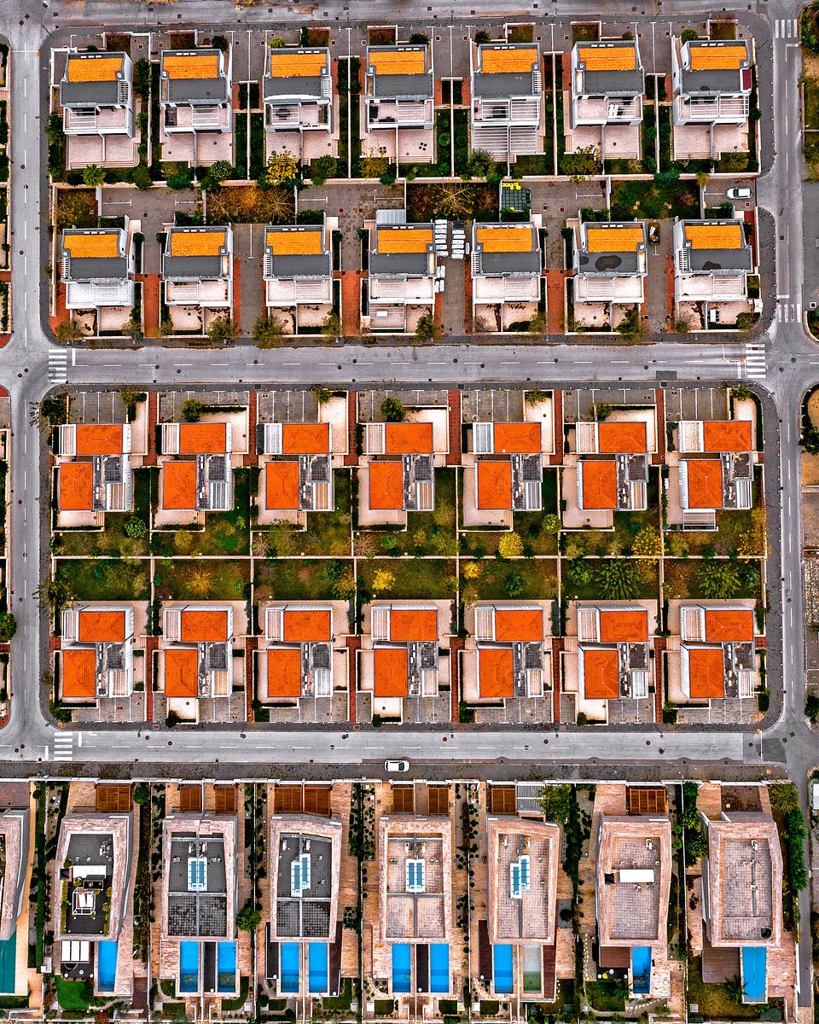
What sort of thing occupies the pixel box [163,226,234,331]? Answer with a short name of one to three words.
house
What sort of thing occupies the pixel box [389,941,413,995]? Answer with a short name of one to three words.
swimming pool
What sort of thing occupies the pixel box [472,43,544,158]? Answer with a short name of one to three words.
house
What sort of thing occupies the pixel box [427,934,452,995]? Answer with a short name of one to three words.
swimming pool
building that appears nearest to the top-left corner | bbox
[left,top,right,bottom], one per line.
[61,52,139,170]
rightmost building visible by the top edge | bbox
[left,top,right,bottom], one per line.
[676,40,750,158]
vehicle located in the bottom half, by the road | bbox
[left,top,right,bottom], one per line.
[385,761,408,773]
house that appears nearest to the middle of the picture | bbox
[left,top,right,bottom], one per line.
[355,422,440,527]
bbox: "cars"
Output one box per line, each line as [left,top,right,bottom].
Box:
[728,187,752,198]
[385,761,408,773]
